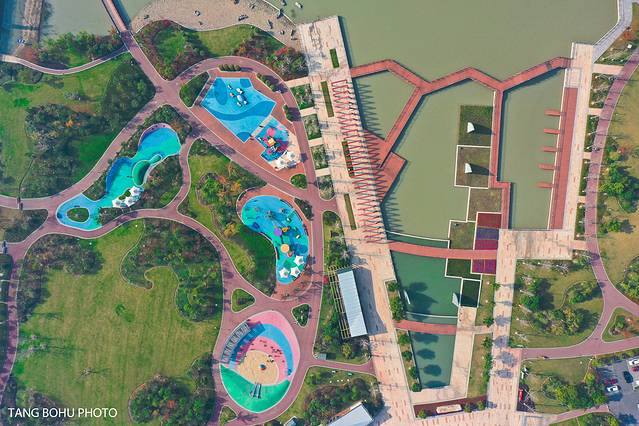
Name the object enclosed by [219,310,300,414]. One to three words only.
playground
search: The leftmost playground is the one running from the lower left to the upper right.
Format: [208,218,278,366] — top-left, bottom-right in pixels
[56,126,181,231]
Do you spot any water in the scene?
Yes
